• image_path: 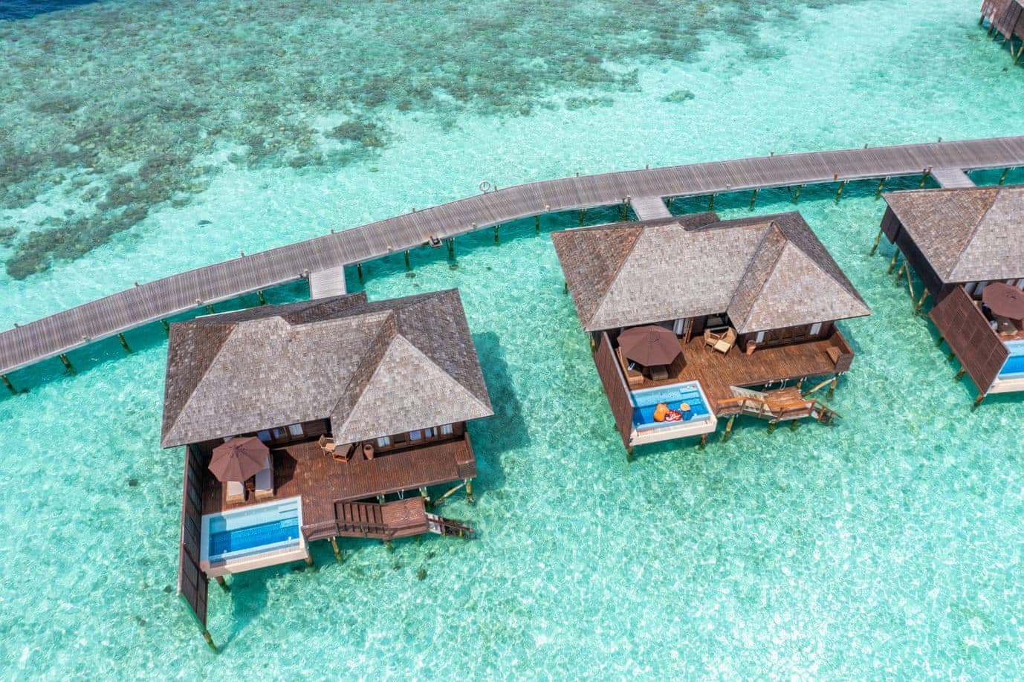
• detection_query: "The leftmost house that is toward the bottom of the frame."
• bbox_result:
[160,286,494,640]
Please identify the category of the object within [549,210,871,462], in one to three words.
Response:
house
